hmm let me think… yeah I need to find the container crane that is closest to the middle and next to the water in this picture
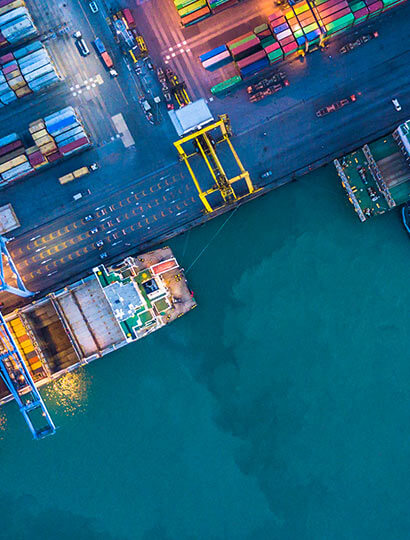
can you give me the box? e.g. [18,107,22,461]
[167,81,259,215]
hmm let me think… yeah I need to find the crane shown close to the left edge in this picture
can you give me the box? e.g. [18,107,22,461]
[0,230,57,441]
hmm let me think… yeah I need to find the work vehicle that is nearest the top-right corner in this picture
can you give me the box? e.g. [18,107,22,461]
[340,28,382,54]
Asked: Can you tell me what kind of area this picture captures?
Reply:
port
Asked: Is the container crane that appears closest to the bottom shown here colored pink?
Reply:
No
